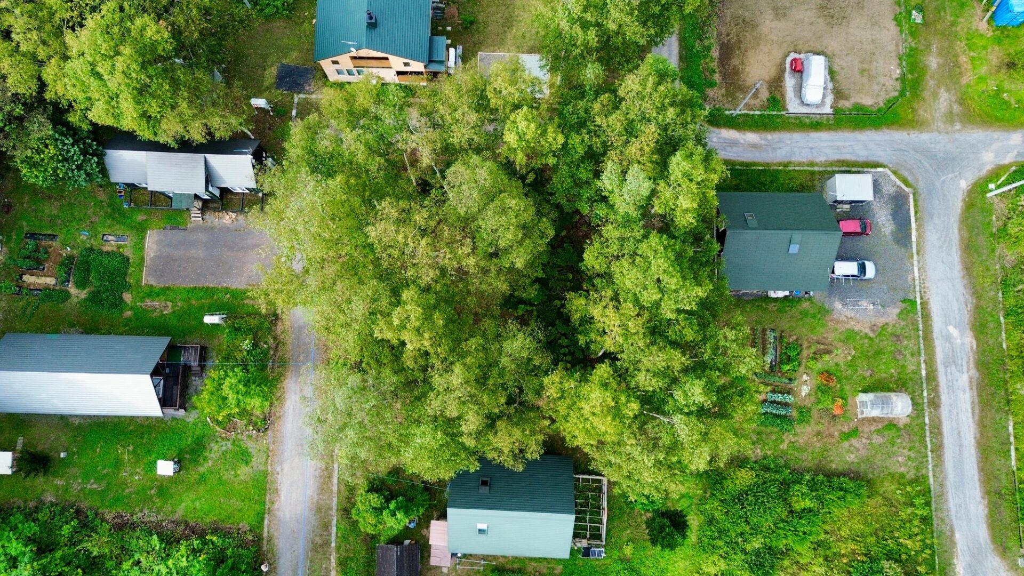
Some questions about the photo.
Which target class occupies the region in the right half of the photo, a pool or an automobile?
automobile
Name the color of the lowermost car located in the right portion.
white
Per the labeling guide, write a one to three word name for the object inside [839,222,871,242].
car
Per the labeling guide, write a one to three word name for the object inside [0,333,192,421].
house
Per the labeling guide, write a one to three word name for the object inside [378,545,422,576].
shed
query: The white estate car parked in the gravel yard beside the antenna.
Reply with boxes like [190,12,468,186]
[829,261,874,283]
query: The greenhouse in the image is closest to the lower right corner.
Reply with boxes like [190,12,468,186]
[856,395,916,420]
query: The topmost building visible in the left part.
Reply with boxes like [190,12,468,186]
[315,0,445,94]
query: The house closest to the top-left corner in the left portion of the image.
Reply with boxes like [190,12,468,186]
[104,134,267,223]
